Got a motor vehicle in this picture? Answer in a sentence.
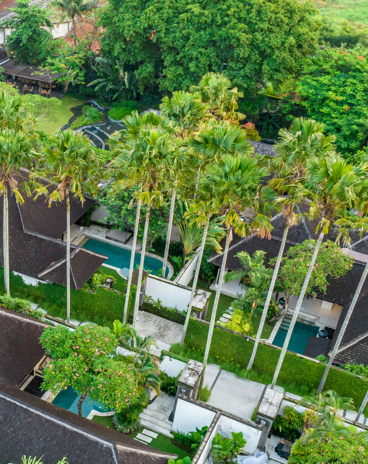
No, the scene contains no motor vehicle.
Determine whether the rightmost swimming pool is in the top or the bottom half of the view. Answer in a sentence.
The rightmost swimming pool is in the bottom half of the image.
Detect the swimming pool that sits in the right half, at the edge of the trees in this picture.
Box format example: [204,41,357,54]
[267,320,318,351]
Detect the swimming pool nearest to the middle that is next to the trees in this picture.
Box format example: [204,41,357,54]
[74,235,177,282]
